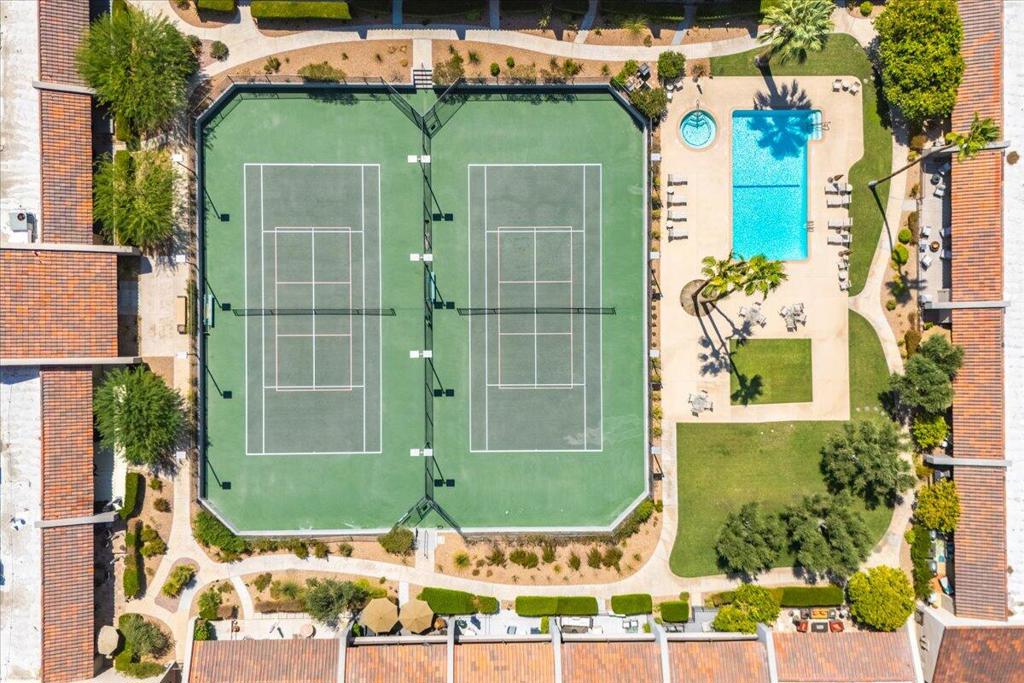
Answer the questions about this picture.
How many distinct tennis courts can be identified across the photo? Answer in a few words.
2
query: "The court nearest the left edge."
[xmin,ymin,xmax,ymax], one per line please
[203,88,429,531]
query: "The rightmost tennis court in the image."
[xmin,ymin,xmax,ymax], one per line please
[427,89,644,529]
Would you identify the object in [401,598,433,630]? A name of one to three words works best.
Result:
umbrella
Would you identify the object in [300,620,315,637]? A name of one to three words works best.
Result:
umbrella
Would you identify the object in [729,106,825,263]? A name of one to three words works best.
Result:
swimming pool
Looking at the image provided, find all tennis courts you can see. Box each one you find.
[427,89,644,529]
[203,88,429,531]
